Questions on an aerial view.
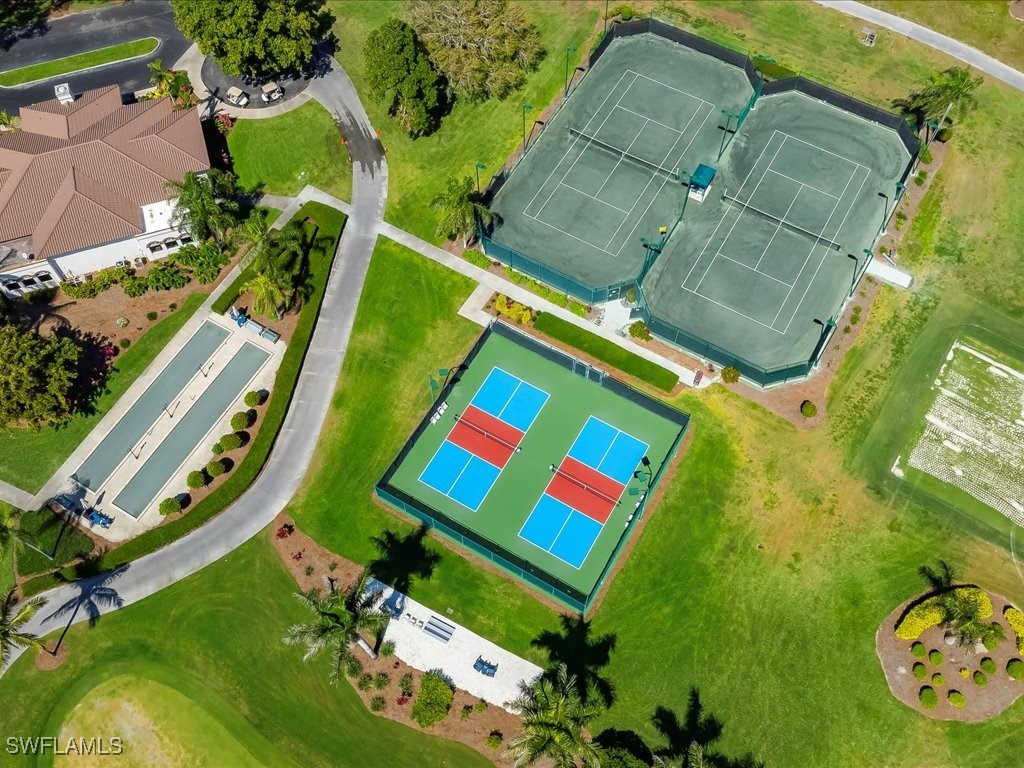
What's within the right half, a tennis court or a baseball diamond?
tennis court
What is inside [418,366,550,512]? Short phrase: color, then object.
blue sports court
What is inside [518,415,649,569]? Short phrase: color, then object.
blue sports court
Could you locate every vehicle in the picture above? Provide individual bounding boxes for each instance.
[261,78,284,103]
[224,81,247,107]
